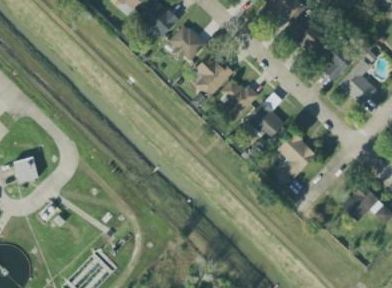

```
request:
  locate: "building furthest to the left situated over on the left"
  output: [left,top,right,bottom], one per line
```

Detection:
[12,156,38,185]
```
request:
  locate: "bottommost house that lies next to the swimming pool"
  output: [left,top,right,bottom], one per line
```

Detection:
[350,72,380,102]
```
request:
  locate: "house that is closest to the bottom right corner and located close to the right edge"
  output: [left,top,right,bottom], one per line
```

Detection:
[344,186,392,224]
